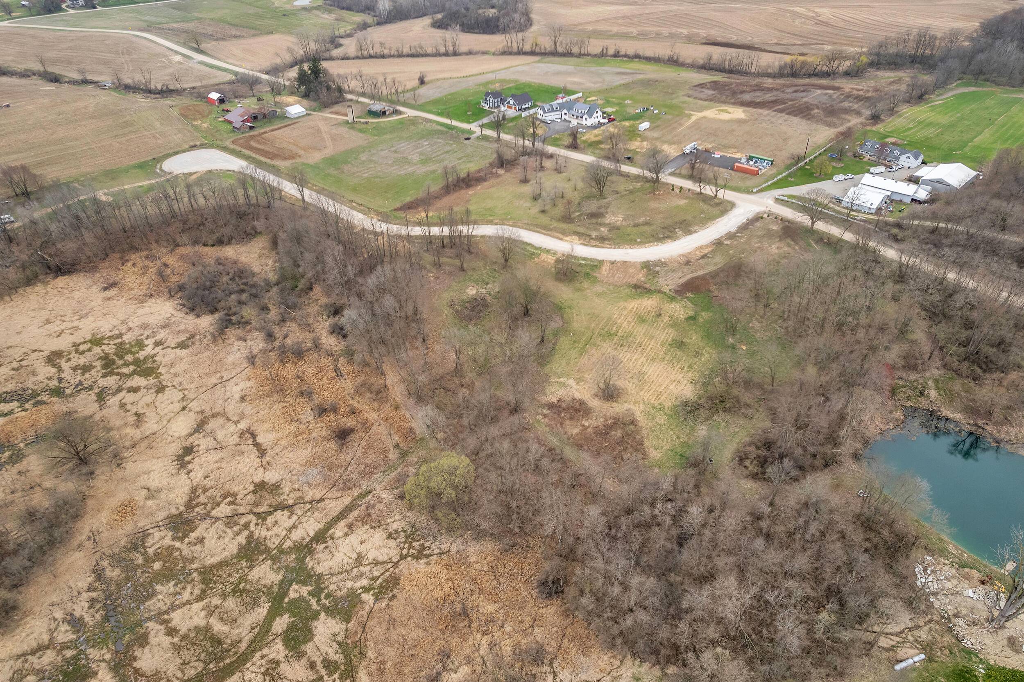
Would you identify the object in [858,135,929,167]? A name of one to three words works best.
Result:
house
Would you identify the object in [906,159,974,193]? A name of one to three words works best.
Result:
shed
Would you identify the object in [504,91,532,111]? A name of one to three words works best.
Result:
building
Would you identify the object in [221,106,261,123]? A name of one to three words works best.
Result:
barn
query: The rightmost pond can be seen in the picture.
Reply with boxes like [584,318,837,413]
[859,407,1024,582]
